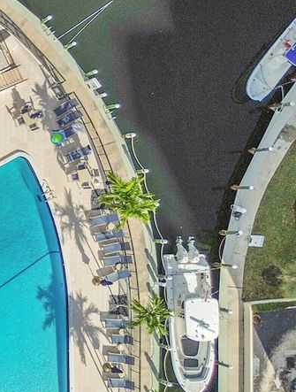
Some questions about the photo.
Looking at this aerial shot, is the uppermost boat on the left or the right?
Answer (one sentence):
The uppermost boat sits on the right side.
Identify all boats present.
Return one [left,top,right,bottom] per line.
[249,11,296,102]
[160,237,218,392]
